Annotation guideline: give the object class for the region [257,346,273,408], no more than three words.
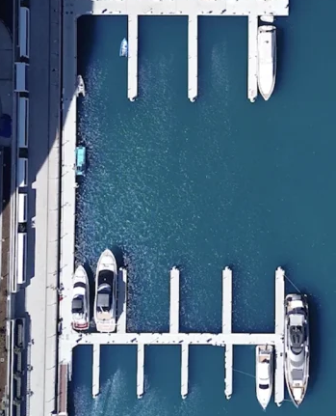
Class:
boat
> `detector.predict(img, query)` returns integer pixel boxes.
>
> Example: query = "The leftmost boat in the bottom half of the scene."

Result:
[72,266,89,329]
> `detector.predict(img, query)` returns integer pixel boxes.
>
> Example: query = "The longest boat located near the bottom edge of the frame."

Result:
[284,294,309,407]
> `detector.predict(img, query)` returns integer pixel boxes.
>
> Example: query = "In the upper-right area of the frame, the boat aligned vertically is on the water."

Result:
[258,26,276,100]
